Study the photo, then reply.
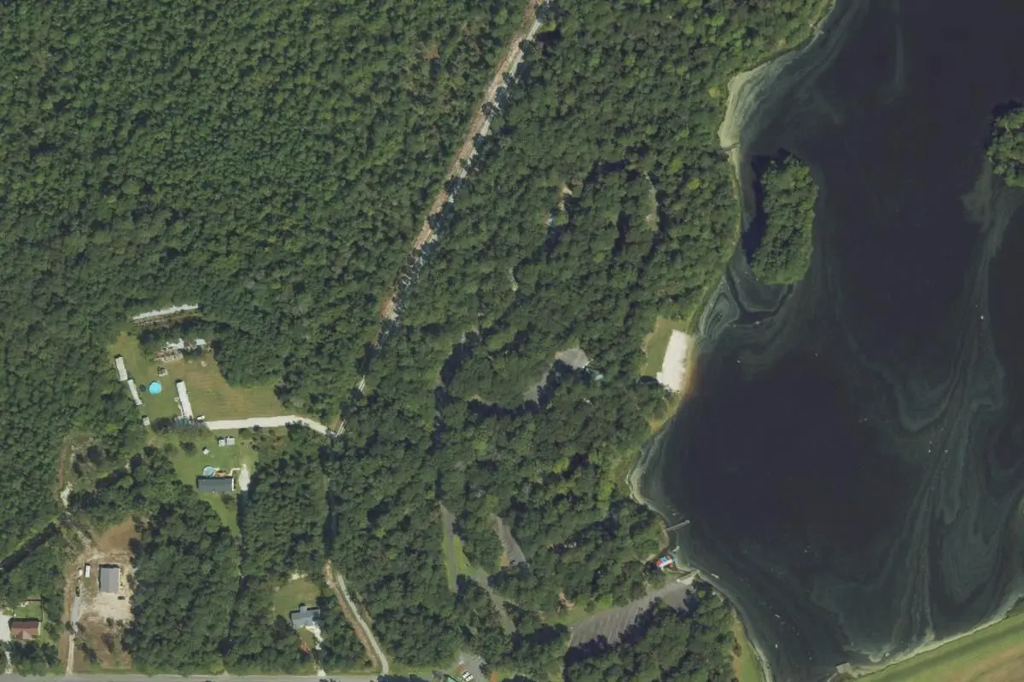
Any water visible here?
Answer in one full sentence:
Yes, there's water in this view.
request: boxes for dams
[834,597,1024,682]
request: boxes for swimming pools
[149,382,162,394]
[203,466,215,478]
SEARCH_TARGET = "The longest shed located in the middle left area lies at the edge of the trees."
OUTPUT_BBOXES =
[132,303,198,321]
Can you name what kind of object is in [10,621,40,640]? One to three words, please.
house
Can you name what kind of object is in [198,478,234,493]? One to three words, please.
house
